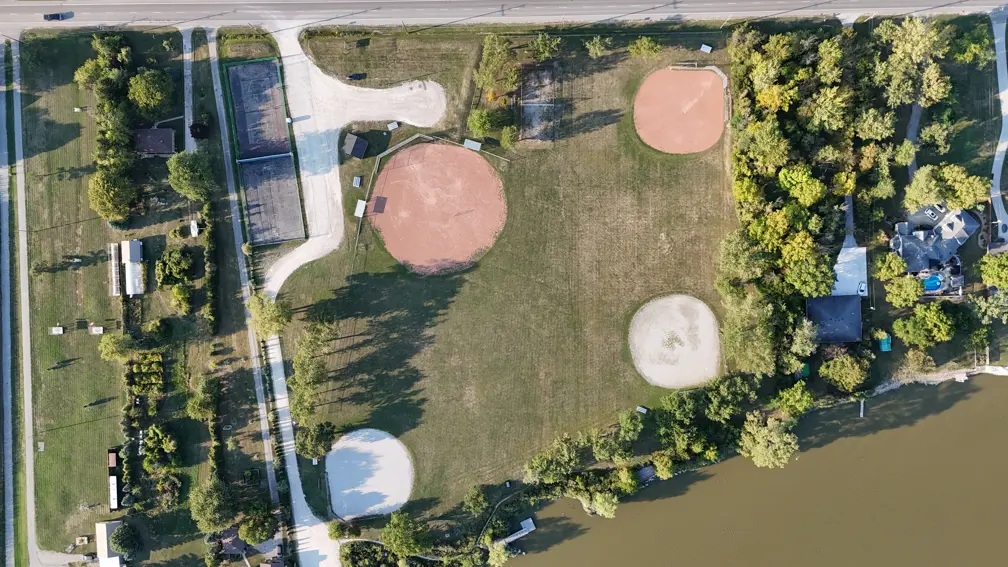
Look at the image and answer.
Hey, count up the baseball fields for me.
4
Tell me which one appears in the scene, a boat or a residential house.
residential house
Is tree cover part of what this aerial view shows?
Yes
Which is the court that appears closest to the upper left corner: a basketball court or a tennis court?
tennis court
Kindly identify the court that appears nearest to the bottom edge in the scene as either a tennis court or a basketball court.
tennis court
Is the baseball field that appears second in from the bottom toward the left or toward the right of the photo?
right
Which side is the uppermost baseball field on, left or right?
right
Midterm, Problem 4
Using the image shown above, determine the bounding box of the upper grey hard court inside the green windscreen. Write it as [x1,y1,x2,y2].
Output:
[229,61,291,158]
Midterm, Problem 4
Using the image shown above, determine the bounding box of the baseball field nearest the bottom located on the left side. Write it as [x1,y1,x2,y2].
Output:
[325,428,413,520]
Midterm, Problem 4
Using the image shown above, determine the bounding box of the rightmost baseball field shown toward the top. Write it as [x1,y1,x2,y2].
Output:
[634,69,725,155]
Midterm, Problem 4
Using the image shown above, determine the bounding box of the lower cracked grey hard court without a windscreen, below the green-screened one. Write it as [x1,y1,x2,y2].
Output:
[239,156,304,244]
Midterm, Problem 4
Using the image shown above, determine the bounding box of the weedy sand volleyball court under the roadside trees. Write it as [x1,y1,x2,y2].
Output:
[520,61,556,144]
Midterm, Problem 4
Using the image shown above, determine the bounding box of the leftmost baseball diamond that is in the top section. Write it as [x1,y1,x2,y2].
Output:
[369,142,507,276]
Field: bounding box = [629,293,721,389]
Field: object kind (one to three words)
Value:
baseball field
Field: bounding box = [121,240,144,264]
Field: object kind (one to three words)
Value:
building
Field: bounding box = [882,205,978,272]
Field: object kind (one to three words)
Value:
house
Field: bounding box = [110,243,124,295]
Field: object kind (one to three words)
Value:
greenhouse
